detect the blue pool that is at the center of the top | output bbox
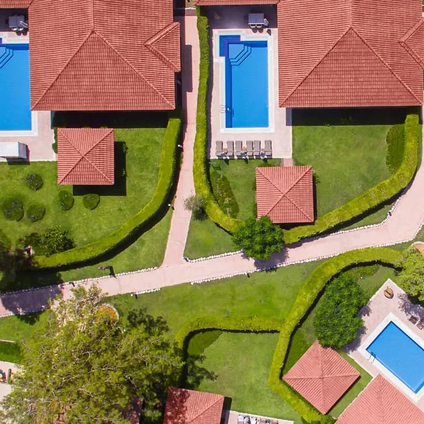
[214,30,274,134]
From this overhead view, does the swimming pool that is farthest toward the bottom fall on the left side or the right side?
right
